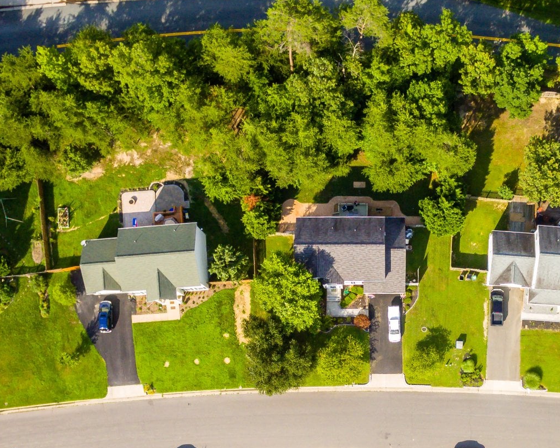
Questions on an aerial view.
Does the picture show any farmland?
No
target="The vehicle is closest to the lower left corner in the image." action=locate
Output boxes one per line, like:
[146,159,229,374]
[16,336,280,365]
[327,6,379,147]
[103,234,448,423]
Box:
[94,300,112,333]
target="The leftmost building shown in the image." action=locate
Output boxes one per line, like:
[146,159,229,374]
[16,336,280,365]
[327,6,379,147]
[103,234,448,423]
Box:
[78,222,208,304]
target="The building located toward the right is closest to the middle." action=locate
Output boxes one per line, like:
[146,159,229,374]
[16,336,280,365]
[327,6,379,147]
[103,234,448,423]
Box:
[294,215,406,296]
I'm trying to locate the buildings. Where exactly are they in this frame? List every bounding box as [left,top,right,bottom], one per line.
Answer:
[487,225,560,307]
[78,222,208,304]
[294,215,406,296]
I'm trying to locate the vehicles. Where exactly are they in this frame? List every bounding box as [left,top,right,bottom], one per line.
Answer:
[491,288,504,326]
[387,303,401,342]
[94,300,112,333]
